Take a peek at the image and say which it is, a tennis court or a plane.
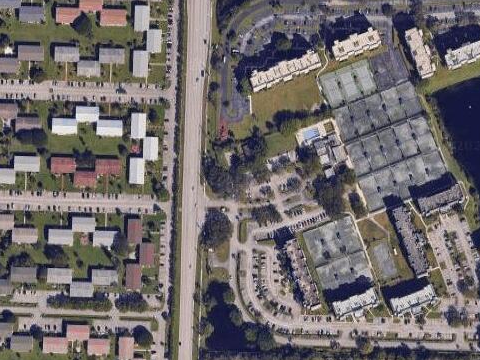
tennis court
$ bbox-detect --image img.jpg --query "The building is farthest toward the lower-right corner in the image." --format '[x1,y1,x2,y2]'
[390,282,436,313]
